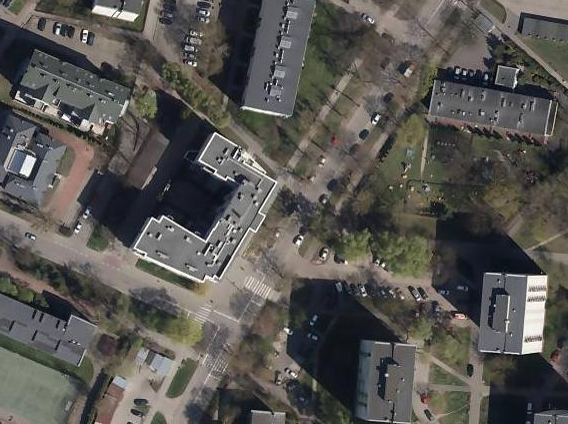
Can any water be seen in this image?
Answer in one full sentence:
No, water can't be seen anywhere here.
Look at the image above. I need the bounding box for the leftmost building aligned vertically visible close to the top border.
[241,0,314,119]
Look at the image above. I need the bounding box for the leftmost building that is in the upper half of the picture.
[0,115,66,208]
